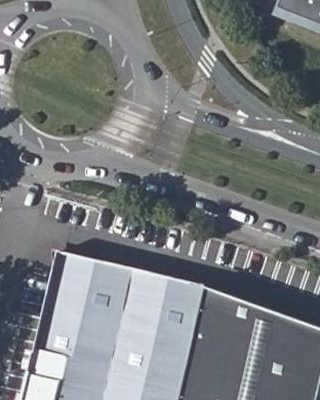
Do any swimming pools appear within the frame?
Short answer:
No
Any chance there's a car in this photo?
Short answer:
Yes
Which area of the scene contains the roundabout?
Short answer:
top left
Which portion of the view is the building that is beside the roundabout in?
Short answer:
bottom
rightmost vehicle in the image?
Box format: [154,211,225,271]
[292,234,316,247]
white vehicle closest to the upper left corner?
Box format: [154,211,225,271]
[4,15,24,36]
